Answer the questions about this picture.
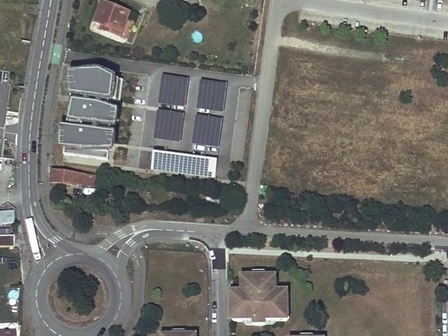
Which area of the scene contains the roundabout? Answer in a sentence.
Look in the bottom left portion of the view to spot the roundabout.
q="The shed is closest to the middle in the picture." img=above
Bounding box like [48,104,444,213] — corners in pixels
[152,150,217,180]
